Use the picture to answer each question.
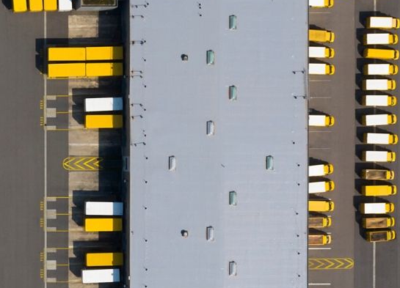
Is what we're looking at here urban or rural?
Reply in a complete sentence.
The area shown here is urban.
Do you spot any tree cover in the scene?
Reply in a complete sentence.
No, the scene doesn't show any tree cover.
